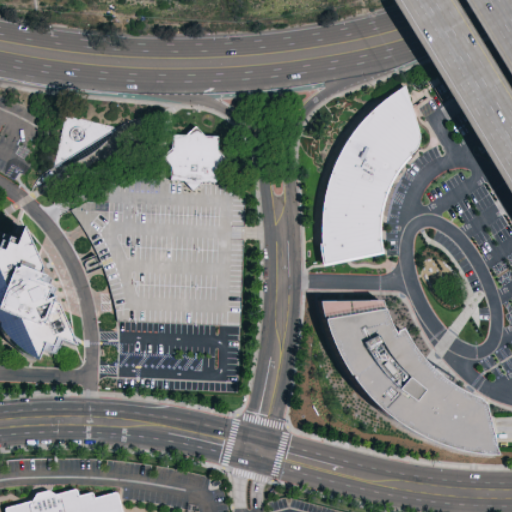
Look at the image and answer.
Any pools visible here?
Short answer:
No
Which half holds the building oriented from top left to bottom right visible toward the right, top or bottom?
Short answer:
bottom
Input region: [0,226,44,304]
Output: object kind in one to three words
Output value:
building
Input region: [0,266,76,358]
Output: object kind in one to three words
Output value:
building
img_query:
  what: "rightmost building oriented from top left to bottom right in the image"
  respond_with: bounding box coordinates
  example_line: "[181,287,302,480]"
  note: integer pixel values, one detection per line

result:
[328,309,500,455]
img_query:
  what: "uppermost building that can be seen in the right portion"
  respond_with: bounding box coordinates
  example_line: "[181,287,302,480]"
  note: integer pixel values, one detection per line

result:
[322,87,421,265]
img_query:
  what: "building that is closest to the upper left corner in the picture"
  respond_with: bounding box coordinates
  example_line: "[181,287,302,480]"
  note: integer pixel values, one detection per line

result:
[55,118,115,173]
